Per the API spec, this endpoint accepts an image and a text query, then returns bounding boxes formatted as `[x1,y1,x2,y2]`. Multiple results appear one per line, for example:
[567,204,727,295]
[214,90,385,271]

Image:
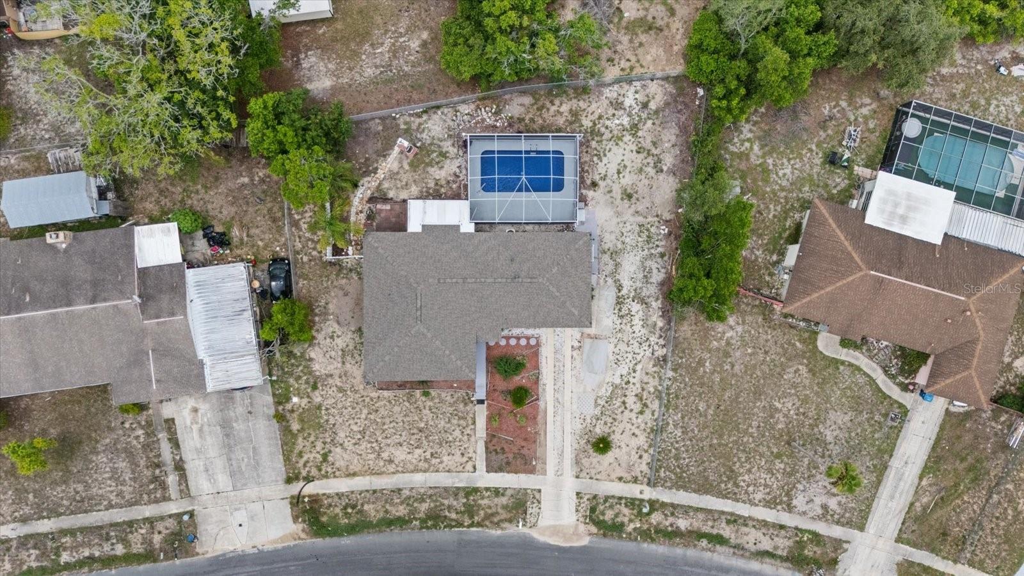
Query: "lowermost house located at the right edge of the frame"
[776,197,1024,409]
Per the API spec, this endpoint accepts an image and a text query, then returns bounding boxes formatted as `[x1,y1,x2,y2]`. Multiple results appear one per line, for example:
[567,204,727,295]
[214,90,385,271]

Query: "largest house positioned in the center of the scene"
[363,225,592,382]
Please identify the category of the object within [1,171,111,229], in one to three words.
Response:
shed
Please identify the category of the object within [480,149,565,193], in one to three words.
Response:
swimming pool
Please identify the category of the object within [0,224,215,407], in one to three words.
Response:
house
